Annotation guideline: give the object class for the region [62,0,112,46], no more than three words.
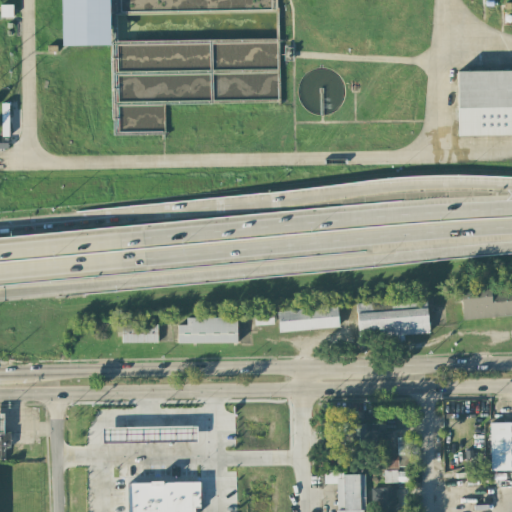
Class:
shed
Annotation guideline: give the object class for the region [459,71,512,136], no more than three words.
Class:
shed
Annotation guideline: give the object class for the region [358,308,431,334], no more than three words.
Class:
house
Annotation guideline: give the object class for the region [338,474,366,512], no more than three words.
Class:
building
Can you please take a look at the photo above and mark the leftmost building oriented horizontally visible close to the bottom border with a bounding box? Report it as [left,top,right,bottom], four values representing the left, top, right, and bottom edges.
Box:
[132,481,202,512]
